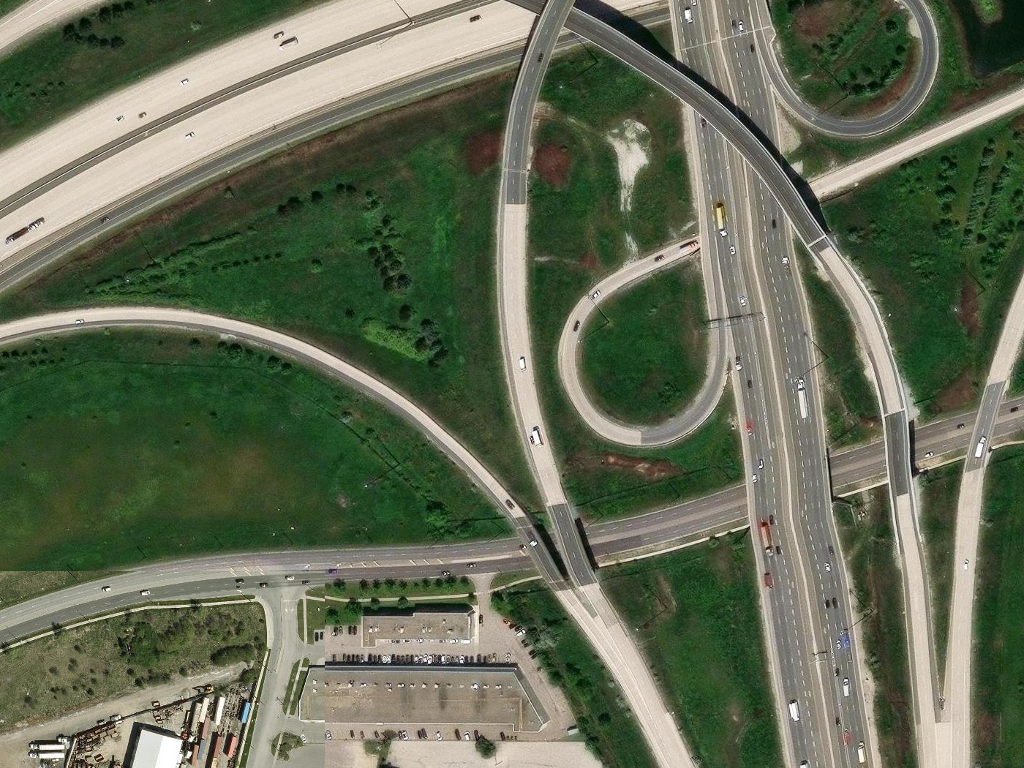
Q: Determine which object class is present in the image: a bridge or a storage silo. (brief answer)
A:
bridge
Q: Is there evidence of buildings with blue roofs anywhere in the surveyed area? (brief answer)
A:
No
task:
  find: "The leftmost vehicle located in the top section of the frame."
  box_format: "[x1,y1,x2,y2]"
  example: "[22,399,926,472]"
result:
[8,219,45,241]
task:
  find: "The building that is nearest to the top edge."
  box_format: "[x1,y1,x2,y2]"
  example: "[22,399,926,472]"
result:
[363,609,476,647]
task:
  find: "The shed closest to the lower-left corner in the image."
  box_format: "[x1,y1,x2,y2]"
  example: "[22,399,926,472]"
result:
[131,725,189,768]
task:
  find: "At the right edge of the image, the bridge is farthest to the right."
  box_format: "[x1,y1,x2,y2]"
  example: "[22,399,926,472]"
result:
[965,379,1010,472]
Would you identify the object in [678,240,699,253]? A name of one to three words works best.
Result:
vehicle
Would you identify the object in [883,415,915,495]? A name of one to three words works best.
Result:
bridge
